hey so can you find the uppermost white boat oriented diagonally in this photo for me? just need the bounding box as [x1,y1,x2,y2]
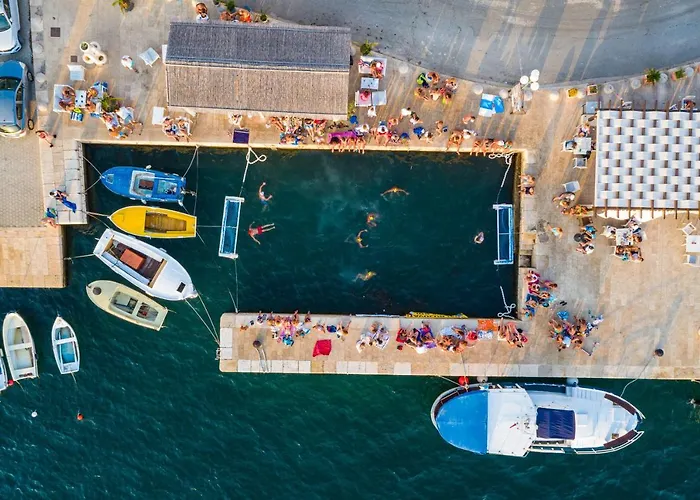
[93,229,196,301]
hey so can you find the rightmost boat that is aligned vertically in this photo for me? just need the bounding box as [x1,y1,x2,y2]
[50,316,82,375]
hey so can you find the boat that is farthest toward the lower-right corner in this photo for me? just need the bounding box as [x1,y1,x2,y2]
[428,382,649,461]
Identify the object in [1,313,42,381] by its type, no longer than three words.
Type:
boat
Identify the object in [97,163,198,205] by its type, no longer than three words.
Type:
boat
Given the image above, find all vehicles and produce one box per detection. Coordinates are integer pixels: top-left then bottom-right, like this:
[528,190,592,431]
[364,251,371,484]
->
[0,0,27,55]
[0,55,31,136]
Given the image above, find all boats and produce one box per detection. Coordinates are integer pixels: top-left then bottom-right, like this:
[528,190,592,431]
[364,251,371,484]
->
[428,382,649,461]
[93,229,196,301]
[81,282,170,330]
[0,338,11,388]
[105,205,200,239]
[50,316,82,375]
[97,163,198,205]
[1,313,42,381]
